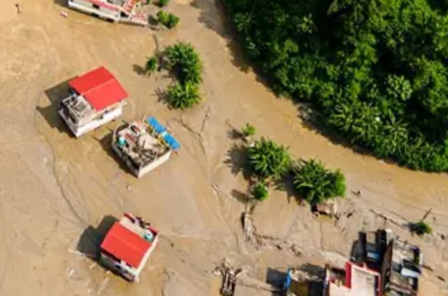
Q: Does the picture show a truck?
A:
No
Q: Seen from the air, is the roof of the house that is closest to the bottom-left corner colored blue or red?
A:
red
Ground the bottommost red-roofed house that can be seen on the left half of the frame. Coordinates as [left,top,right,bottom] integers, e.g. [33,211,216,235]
[98,208,166,282]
